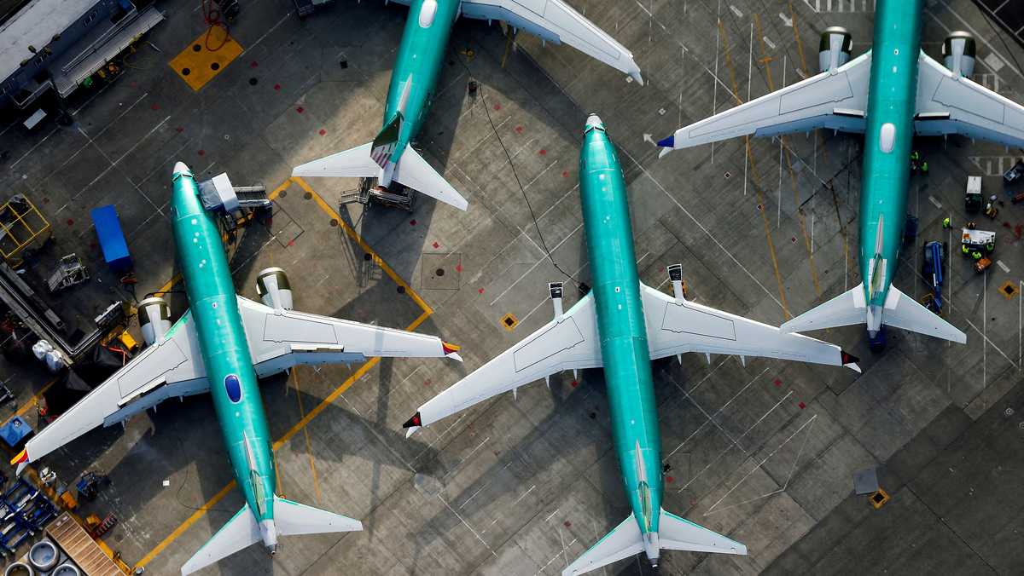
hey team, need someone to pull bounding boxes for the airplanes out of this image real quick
[401,116,861,576]
[13,162,463,576]
[292,0,643,210]
[657,0,1024,344]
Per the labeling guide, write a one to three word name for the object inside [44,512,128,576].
trailer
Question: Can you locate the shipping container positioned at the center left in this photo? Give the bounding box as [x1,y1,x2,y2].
[92,205,132,277]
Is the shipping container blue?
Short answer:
Yes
